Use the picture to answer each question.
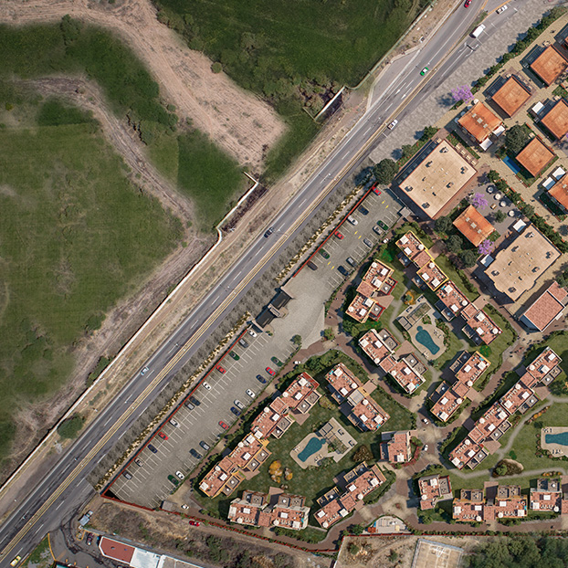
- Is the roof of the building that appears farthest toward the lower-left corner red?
Yes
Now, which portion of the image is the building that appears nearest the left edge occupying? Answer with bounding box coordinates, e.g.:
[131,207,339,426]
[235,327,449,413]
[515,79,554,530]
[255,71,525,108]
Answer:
[99,533,140,564]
